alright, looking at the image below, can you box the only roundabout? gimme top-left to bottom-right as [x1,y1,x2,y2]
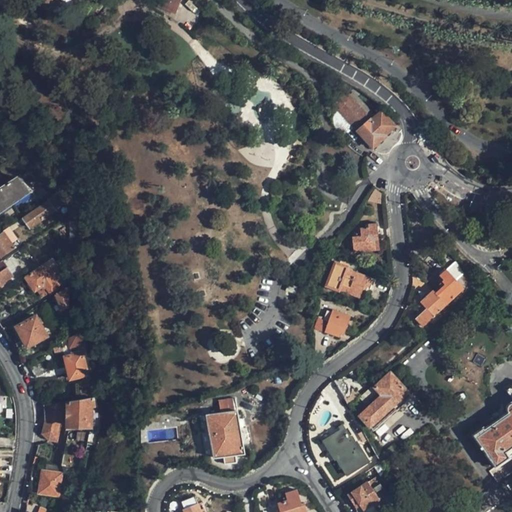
[366,139,469,199]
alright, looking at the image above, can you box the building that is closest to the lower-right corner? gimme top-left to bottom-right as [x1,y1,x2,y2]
[473,404,512,484]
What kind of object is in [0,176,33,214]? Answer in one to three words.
building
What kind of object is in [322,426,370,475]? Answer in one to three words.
building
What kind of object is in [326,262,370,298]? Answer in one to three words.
house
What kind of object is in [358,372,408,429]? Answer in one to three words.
house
